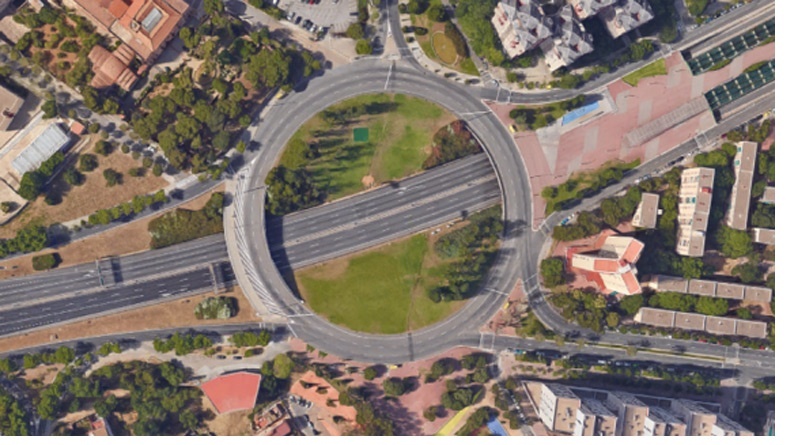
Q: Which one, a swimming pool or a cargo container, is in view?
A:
swimming pool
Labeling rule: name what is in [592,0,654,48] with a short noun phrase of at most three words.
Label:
building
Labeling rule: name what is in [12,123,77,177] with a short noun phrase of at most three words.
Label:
building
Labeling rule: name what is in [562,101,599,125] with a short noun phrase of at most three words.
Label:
swimming pool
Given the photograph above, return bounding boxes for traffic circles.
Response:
[245,58,534,366]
